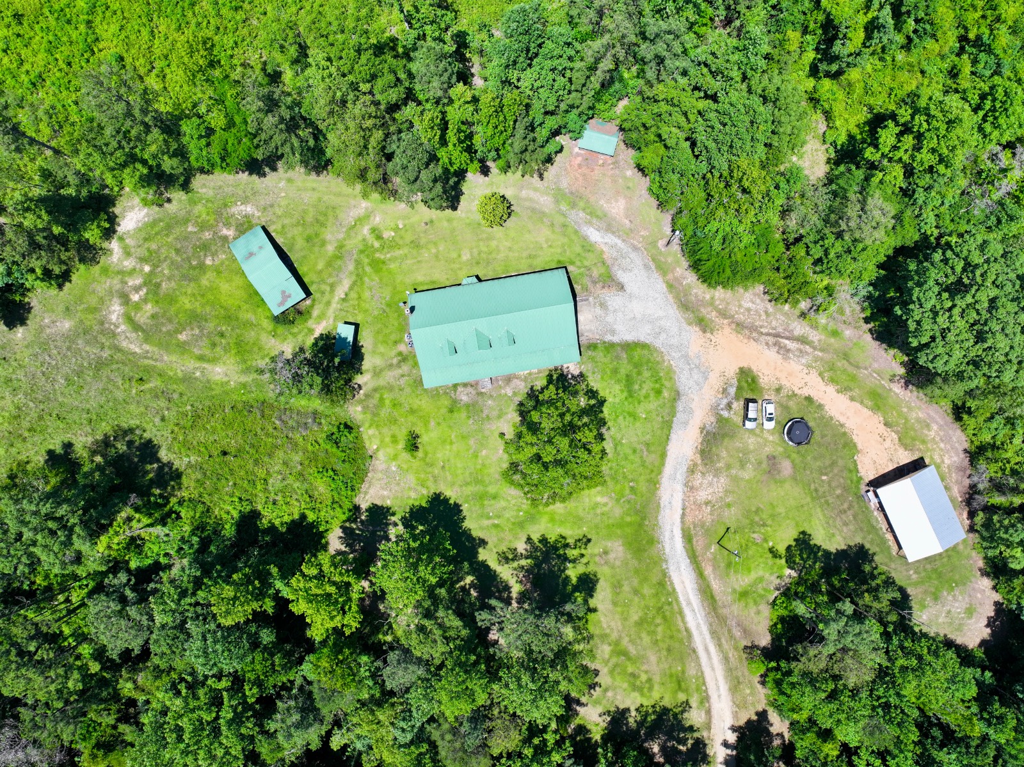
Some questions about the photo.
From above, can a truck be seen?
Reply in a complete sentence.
No, I find no truck anywhere in the image.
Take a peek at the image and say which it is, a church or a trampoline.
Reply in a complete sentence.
Visible in the photo is a trampoline.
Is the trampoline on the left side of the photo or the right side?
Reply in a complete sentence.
You can find the trampoline on the right side of the picture.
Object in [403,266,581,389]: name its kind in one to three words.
house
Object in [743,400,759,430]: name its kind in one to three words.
car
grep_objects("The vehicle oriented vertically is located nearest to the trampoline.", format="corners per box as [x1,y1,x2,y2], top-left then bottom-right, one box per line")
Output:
[762,400,776,429]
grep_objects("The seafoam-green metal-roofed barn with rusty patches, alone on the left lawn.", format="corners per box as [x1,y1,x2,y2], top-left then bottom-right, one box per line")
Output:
[229,225,310,316]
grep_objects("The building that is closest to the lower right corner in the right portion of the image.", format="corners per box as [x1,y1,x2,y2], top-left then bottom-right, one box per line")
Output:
[866,463,966,563]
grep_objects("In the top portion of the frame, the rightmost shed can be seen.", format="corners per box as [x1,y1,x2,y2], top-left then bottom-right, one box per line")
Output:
[580,121,620,159]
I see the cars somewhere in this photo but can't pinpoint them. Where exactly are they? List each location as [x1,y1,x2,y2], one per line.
[762,400,776,429]
[743,400,759,430]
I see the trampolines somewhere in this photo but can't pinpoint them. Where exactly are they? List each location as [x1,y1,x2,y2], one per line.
[782,419,816,446]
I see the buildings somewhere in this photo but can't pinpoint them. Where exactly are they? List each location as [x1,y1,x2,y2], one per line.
[866,463,966,563]
[580,121,620,159]
[336,323,357,360]
[403,266,581,389]
[229,225,310,316]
